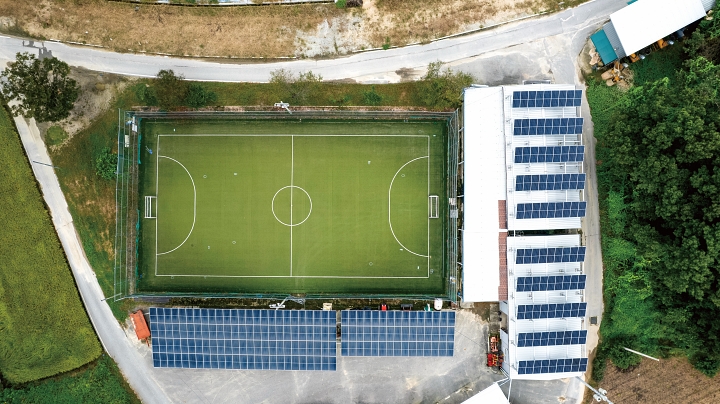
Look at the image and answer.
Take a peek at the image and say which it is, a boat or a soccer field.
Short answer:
soccer field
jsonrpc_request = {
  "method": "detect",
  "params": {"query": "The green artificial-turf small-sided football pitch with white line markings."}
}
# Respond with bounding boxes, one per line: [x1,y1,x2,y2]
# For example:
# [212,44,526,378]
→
[141,118,449,294]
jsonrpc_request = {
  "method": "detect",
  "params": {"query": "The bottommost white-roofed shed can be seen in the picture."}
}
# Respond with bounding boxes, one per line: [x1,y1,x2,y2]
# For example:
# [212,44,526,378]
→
[461,373,508,404]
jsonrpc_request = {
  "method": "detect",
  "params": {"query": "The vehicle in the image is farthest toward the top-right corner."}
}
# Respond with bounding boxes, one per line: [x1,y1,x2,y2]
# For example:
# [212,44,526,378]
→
[650,39,676,53]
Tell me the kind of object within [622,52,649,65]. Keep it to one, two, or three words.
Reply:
vehicle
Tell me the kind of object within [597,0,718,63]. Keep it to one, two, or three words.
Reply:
barn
